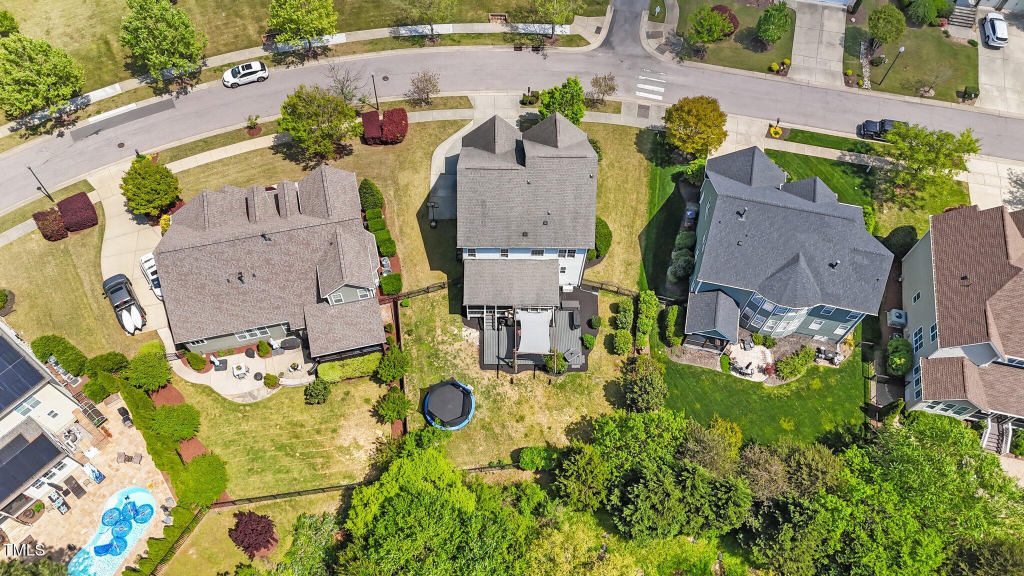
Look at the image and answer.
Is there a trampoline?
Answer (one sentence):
Yes, a trampoline appears in the view.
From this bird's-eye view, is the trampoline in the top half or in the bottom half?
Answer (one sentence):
The trampoline is in the bottom half of the image.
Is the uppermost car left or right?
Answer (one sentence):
You can find the uppermost car on the right side of the picture.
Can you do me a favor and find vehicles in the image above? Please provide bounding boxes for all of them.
[101,274,147,335]
[982,16,1009,46]
[859,119,911,146]
[222,64,270,91]
[140,252,166,302]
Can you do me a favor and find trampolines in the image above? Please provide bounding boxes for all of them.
[426,382,476,432]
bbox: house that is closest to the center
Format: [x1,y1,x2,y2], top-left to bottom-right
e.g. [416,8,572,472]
[457,111,596,331]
